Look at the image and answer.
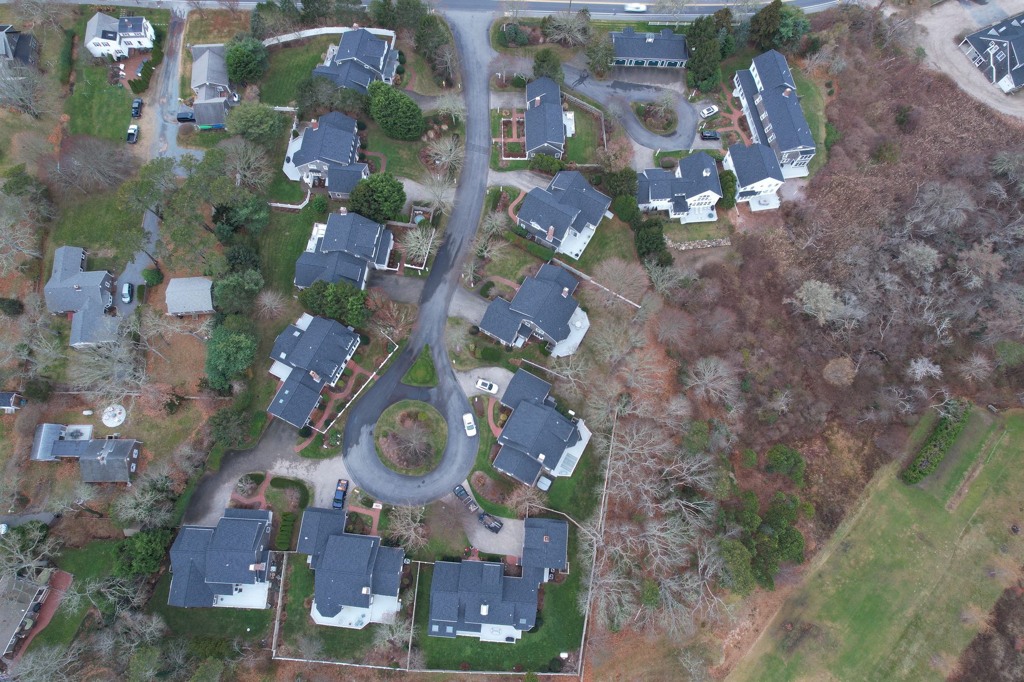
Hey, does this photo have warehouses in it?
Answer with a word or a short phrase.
No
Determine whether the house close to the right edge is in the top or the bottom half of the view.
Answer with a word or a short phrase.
top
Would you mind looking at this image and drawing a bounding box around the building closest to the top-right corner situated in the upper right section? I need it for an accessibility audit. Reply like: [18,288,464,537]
[959,12,1024,101]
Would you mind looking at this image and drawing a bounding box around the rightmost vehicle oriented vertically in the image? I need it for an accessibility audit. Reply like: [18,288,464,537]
[464,412,476,438]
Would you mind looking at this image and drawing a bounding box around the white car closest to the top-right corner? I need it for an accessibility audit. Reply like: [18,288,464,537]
[699,105,720,119]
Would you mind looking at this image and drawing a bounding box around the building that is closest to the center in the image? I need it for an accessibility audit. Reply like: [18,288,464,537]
[479,263,591,359]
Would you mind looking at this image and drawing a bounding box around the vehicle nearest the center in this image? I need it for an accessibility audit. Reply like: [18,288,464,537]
[474,379,499,394]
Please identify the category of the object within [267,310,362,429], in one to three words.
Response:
house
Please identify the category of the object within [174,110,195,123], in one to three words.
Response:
vehicle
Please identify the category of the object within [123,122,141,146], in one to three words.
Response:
vehicle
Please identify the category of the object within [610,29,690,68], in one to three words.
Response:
building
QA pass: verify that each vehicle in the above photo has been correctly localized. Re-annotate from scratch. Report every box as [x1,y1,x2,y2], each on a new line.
[699,129,722,141]
[474,379,499,394]
[119,281,134,305]
[129,97,145,120]
[699,105,720,119]
[331,477,349,508]
[174,110,195,123]
[452,481,480,516]
[464,412,476,438]
[624,2,645,13]
[123,122,141,146]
